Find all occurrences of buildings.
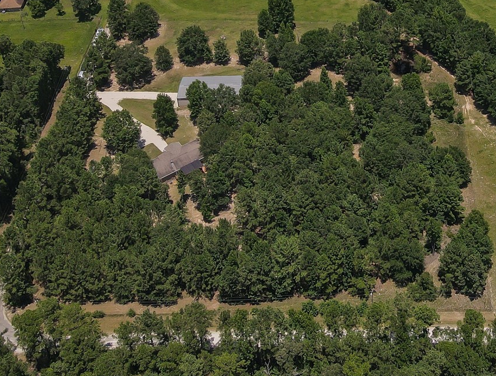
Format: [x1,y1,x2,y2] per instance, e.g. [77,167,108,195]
[177,75,245,110]
[0,0,23,17]
[150,142,208,186]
